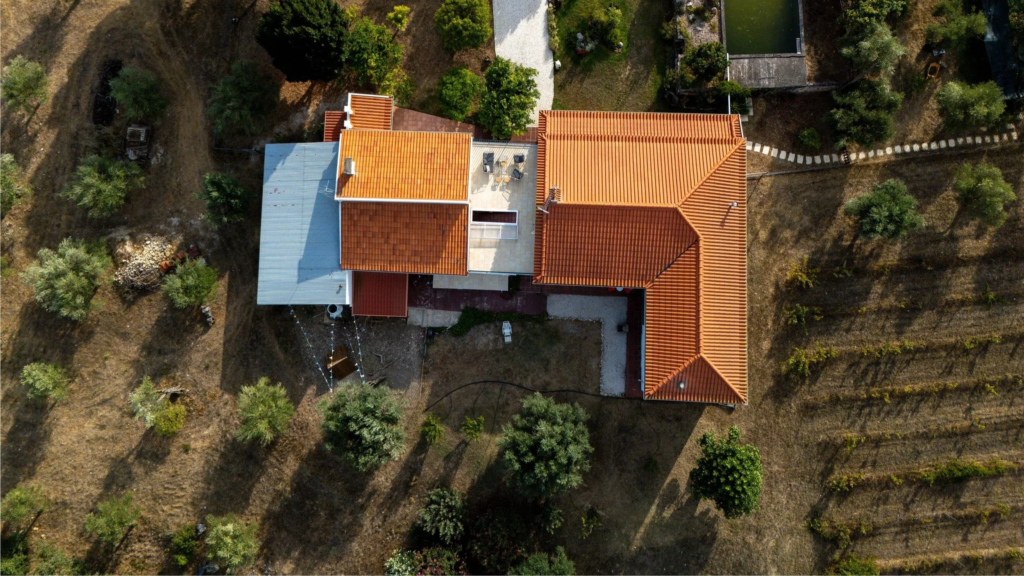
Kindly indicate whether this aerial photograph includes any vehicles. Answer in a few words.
No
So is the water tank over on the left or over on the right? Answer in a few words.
right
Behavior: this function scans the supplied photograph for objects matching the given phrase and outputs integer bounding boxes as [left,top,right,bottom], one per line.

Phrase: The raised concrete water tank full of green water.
[718,0,805,61]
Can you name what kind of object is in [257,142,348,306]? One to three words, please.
shed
